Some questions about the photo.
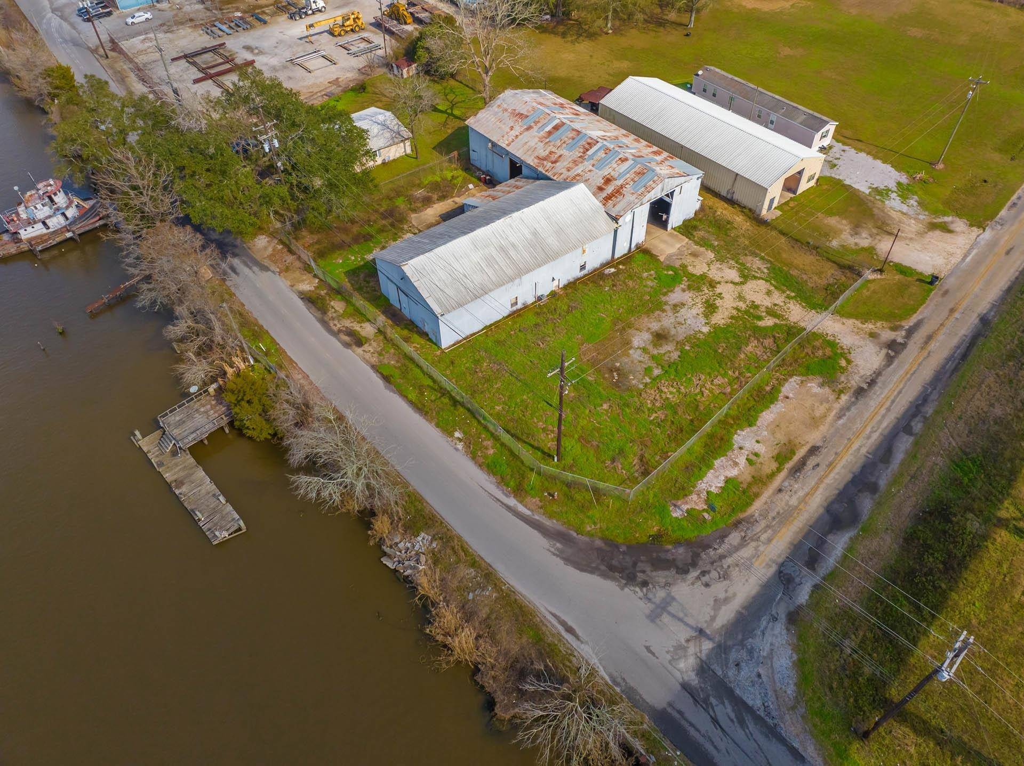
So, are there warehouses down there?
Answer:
Yes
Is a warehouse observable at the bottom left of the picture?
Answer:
No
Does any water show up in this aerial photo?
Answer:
Yes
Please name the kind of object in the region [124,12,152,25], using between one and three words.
vehicle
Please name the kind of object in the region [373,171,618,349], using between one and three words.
warehouse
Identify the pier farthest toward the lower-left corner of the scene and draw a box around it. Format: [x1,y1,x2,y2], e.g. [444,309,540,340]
[131,424,249,547]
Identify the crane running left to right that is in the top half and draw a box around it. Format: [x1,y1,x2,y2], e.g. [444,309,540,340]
[296,7,368,43]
